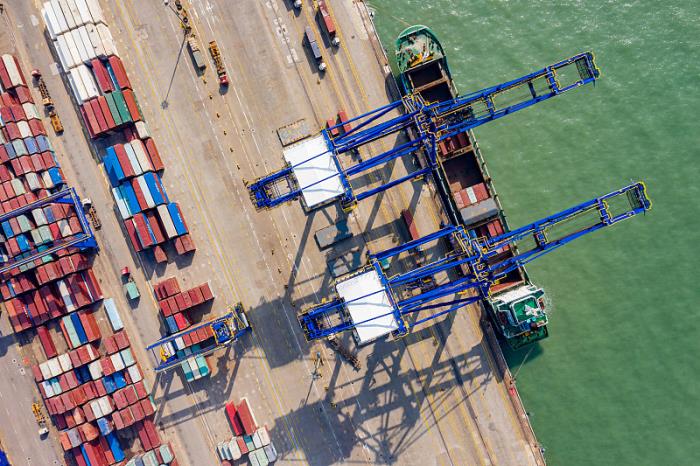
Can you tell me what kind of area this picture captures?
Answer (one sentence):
This looks like a port.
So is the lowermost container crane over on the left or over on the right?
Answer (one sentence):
The lowermost container crane sits on the left side.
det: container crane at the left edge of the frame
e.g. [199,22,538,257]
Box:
[0,185,105,275]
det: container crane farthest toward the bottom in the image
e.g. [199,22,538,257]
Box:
[145,299,256,374]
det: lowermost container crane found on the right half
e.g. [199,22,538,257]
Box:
[292,180,656,346]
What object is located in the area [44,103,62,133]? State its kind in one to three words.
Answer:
vehicle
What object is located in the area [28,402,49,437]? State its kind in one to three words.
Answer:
vehicle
